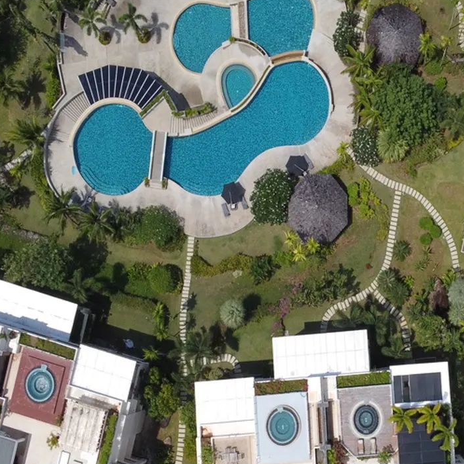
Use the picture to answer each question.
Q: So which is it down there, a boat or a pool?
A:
pool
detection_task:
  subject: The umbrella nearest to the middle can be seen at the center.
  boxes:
[222,183,245,207]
